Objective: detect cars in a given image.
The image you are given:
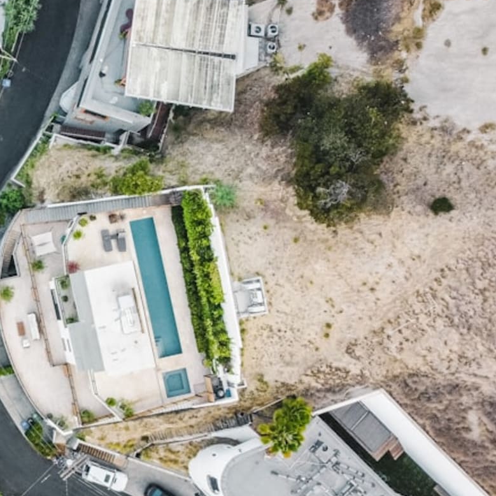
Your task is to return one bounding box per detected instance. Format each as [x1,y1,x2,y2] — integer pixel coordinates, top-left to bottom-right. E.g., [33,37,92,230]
[79,460,133,495]
[141,482,176,496]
